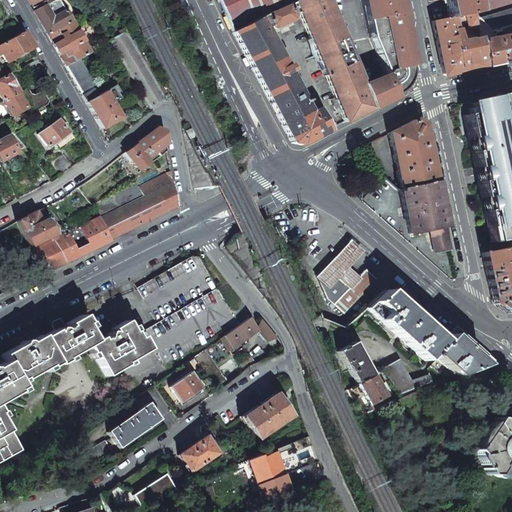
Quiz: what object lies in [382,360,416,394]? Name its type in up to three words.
shed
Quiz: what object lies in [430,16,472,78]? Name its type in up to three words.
house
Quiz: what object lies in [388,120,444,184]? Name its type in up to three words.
house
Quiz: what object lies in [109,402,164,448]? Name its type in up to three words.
building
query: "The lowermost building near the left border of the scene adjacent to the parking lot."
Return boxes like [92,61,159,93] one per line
[0,314,158,463]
